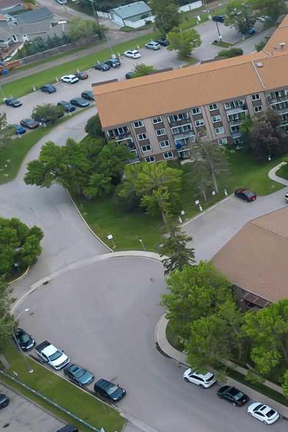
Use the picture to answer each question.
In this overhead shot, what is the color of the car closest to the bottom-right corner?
white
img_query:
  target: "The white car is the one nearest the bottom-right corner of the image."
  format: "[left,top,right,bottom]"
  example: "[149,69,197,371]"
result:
[247,404,280,426]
